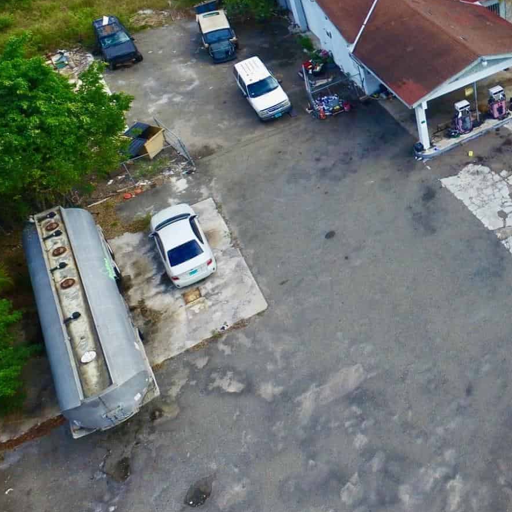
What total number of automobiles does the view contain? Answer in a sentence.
In total, there are 4 automobiles in the scene.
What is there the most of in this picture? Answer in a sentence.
Most of the picture is covered by paved ground.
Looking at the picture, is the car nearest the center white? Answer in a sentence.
Yes, white is the color of the car nearest the center.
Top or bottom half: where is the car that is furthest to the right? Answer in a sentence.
The car that is furthest to the right is in the top half of the image.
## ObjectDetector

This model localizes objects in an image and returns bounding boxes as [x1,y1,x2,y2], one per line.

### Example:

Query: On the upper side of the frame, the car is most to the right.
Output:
[229,58,289,125]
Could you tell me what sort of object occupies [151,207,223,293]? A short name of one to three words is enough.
car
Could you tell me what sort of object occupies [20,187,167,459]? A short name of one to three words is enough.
trailer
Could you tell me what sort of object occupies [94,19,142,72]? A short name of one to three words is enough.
car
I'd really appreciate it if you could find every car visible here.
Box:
[229,58,289,125]
[94,19,142,72]
[151,207,223,293]
[195,7,241,65]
